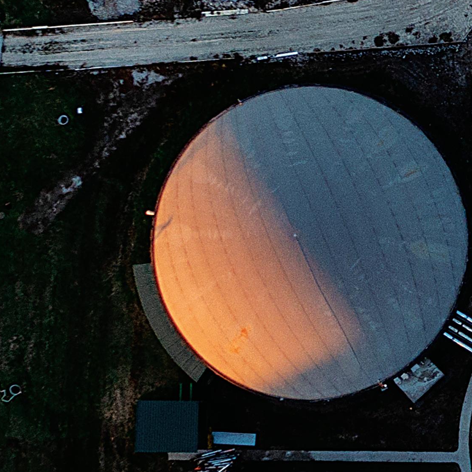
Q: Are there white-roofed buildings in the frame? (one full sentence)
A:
No, I can see no white-roofed building in this picture.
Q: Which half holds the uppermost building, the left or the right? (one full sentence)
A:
The uppermost building is on the right side of the image.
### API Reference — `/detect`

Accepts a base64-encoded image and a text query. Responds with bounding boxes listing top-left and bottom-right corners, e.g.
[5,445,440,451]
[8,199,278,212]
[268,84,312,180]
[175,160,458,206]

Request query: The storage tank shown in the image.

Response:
[135,83,472,405]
